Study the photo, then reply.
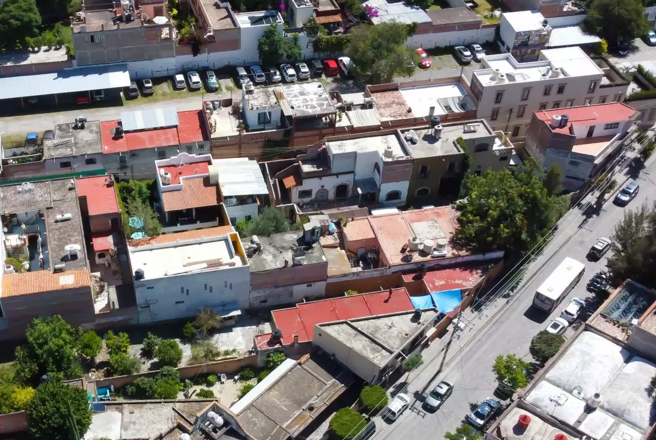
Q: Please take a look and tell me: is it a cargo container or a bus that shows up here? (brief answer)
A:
bus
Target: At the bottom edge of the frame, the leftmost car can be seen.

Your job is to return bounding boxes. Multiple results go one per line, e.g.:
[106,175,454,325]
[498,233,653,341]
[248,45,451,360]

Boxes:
[383,394,411,423]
